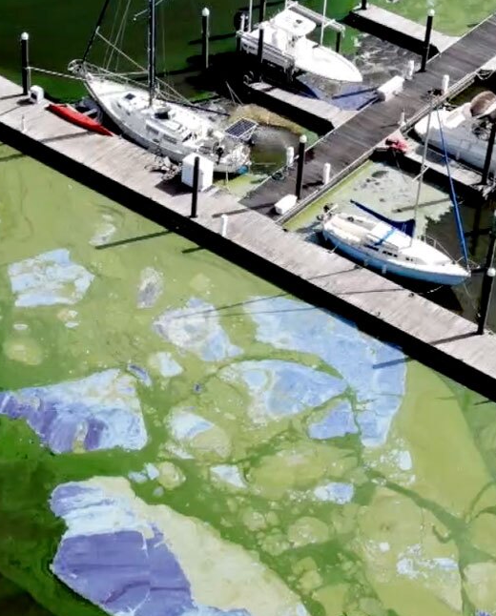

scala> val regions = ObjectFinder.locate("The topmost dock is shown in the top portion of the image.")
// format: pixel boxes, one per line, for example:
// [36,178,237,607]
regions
[354,5,455,58]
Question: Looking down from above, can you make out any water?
Yes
